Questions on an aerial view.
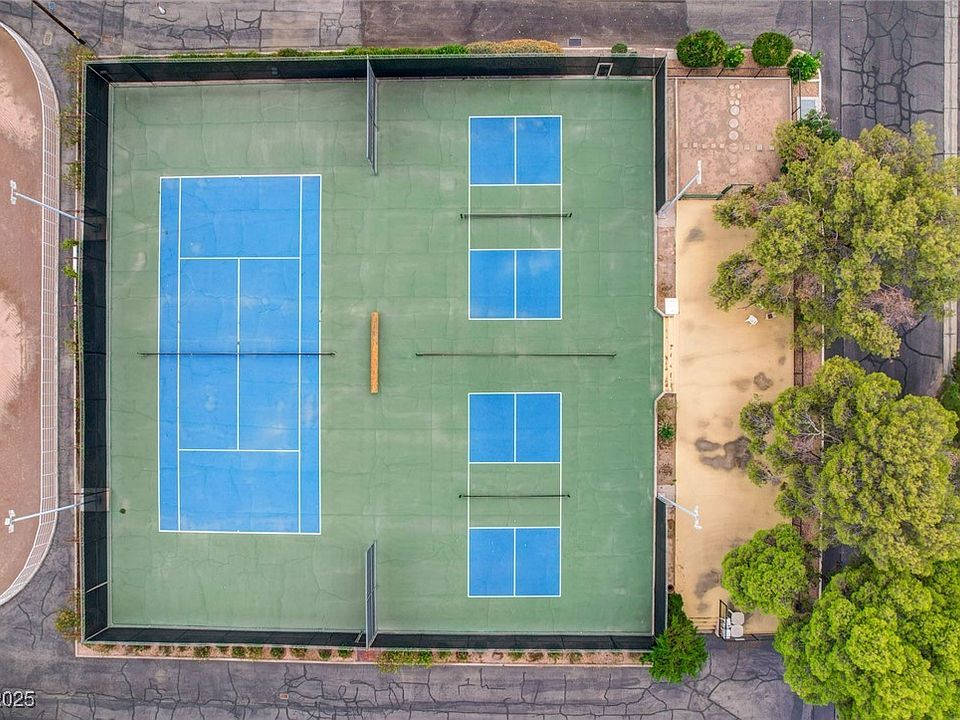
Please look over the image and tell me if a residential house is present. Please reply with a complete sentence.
No, no residential house can be seen from above.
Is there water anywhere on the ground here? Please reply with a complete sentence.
No, no water is visible.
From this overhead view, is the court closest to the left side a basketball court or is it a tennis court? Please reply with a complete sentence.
In the photo, the court closest to the left side shows up as a tennis court.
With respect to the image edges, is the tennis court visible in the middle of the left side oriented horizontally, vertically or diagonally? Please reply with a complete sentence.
In this picture, the tennis court visible in the middle of the left side lies vertically.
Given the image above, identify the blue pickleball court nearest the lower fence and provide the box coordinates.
[468,392,562,599]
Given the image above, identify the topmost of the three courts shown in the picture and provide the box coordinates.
[469,114,562,321]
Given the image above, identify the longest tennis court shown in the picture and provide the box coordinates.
[158,174,321,534]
